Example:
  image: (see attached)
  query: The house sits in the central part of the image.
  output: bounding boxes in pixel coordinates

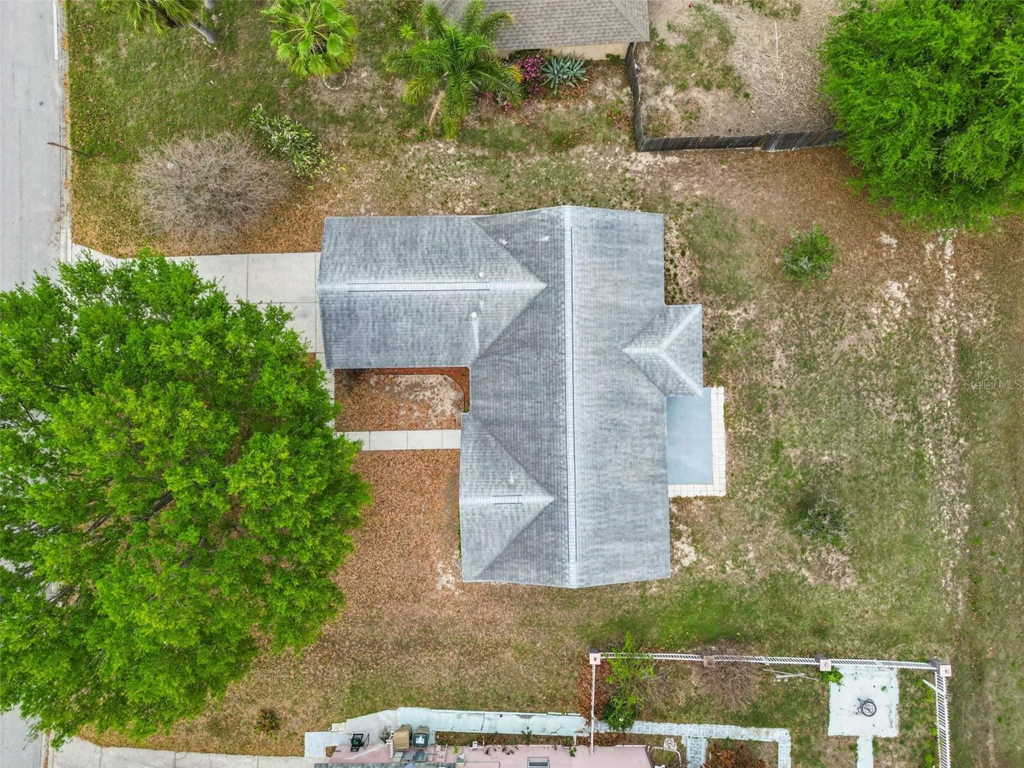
[316,204,705,590]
